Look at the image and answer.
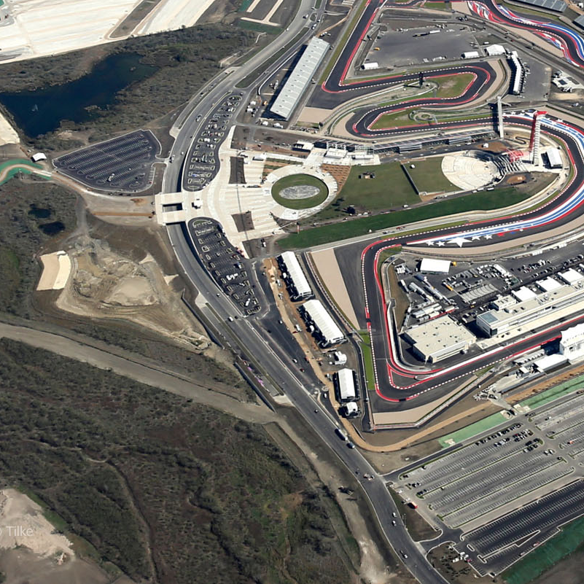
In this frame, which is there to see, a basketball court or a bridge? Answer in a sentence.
Looking from above, you can make out a bridge.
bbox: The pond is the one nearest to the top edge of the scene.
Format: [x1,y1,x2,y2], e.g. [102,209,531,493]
[0,51,160,135]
